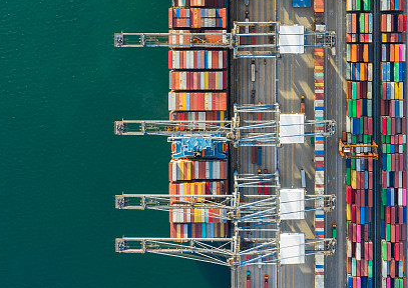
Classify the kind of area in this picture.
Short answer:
port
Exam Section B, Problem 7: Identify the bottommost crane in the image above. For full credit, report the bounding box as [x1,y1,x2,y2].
[114,203,337,273]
